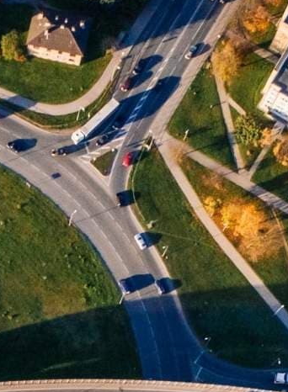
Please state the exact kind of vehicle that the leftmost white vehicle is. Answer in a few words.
truck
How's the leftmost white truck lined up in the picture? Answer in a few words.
on a diagonal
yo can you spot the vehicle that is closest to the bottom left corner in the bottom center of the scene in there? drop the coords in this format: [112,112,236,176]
[119,277,132,294]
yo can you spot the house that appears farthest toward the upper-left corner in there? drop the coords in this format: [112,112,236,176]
[26,11,94,64]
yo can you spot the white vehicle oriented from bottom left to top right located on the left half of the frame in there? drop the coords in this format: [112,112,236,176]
[69,95,125,146]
